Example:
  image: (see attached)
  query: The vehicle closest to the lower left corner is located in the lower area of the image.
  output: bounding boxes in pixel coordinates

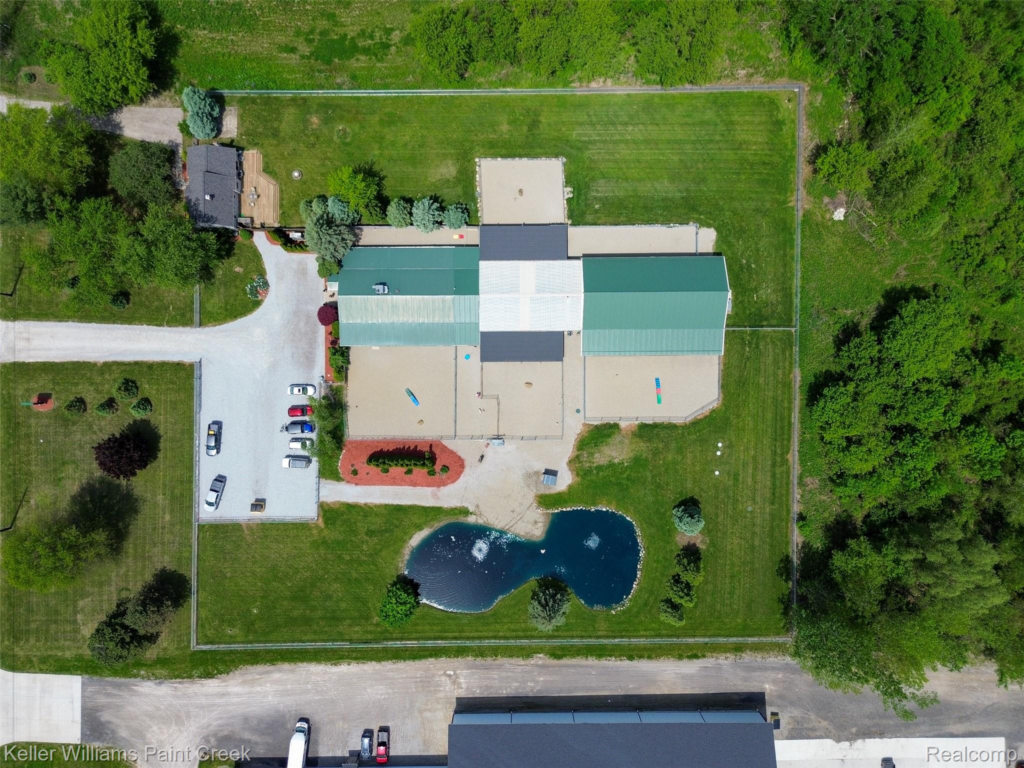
[287,716,311,768]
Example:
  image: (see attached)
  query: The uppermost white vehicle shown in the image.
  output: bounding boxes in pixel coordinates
[288,383,318,397]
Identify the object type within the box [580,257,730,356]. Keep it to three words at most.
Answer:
barn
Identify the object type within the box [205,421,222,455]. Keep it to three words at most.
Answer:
vehicle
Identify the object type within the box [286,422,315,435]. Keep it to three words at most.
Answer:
vehicle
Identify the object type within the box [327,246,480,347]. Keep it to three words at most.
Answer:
building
